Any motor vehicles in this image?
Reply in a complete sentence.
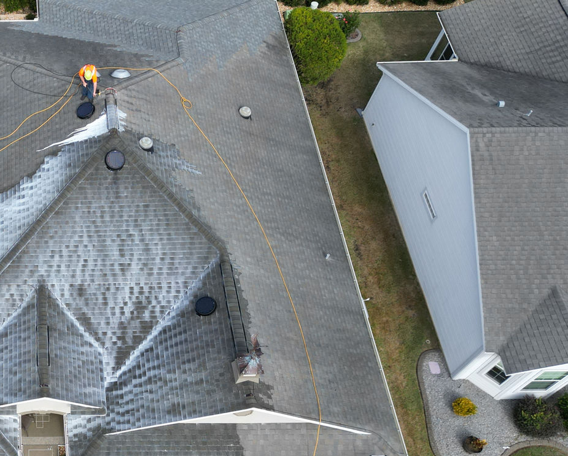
No, the scene contains no motor vehicle.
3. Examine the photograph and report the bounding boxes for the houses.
[0,0,409,456]
[357,0,568,398]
